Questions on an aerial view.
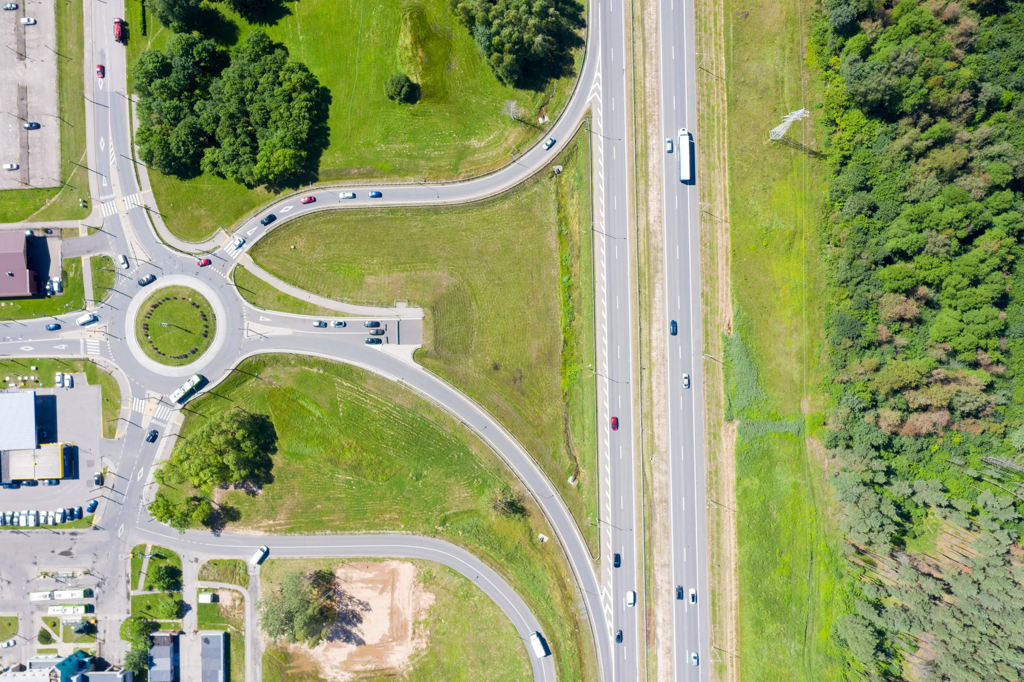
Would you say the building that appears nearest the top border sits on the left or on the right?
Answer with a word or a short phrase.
left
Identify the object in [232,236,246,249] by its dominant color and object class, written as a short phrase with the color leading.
white vehicle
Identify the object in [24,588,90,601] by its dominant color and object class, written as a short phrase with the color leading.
white vehicle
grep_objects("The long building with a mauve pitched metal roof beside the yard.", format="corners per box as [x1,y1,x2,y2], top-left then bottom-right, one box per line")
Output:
[0,230,47,295]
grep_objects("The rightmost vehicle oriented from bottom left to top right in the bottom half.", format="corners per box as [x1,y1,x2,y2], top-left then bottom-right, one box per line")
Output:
[249,546,267,566]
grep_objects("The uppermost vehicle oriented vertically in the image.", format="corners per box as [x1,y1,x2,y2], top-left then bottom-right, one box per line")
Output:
[110,16,122,44]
